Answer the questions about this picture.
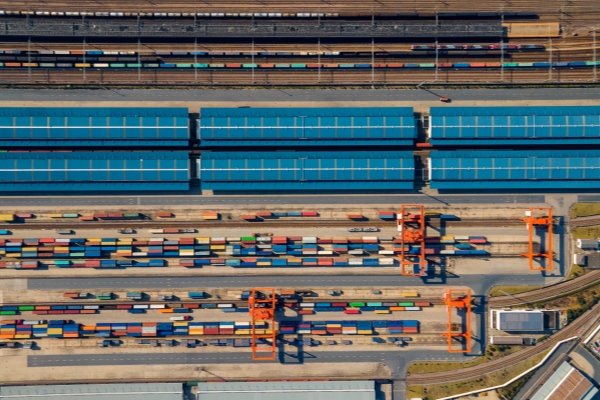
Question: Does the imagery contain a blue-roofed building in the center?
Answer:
Yes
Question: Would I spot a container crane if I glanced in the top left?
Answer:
No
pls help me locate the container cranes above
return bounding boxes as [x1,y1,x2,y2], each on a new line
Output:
[248,288,280,359]
[519,208,553,270]
[395,205,425,276]
[441,289,472,352]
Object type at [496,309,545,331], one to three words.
building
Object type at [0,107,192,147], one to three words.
building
